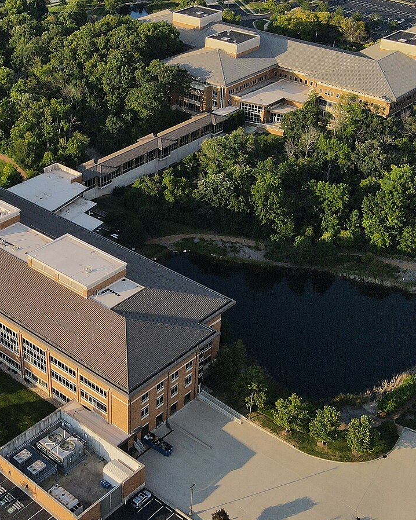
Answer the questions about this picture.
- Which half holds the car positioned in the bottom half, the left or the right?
left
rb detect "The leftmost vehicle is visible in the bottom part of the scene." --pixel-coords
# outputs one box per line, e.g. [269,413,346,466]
[128,489,152,509]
